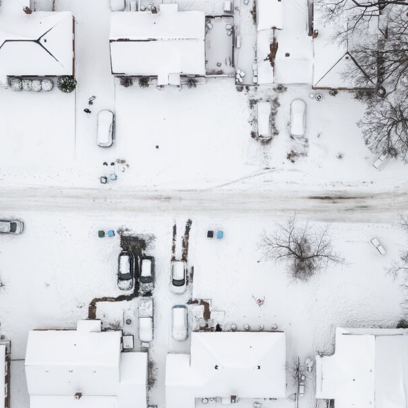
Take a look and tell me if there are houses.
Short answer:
Yes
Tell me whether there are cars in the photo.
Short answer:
Yes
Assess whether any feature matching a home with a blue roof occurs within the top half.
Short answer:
No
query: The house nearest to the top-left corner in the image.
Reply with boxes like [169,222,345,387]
[0,0,74,87]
